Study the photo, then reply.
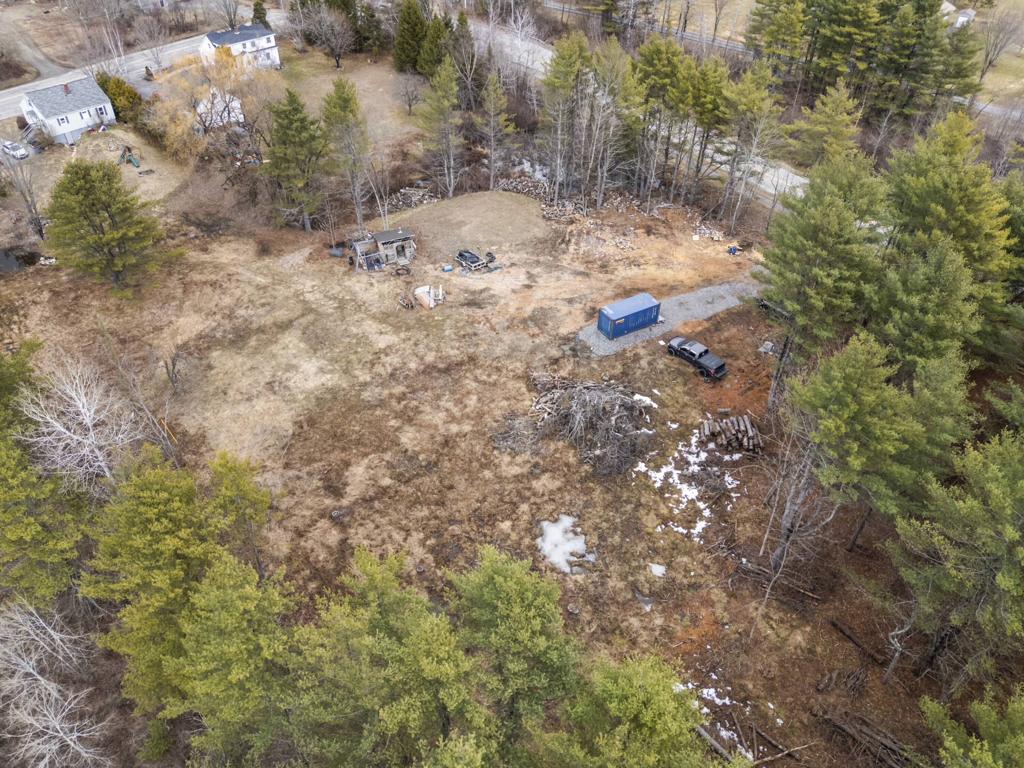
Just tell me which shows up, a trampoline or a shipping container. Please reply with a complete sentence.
The image shows a shipping container.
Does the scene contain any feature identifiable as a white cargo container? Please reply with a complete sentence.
No, there isn't any white cargo container down there.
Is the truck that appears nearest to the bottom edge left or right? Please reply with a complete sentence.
The truck that appears nearest to the bottom edge is on the right side of the image.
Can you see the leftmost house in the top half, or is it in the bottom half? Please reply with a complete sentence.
The leftmost house is in the top half of the image.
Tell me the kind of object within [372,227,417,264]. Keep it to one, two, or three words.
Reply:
shed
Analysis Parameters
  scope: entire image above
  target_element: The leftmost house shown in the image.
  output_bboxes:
[15,74,116,146]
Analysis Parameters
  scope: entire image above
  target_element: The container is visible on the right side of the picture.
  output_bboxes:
[598,294,661,341]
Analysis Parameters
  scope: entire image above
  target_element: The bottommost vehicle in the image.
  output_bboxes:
[667,335,730,377]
